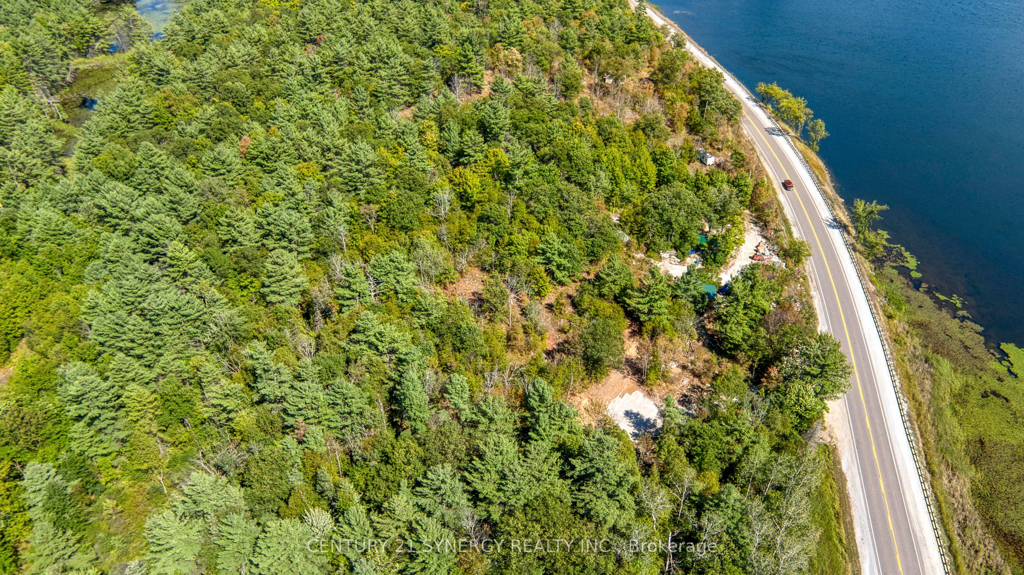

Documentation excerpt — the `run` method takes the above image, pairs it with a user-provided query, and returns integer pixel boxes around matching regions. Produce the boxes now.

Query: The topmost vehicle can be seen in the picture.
[700,150,717,164]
